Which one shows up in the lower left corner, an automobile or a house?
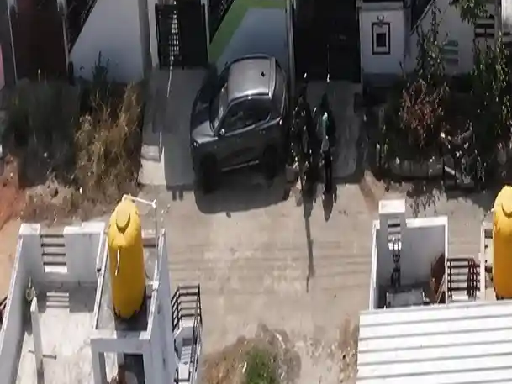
house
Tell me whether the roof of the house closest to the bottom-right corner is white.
Yes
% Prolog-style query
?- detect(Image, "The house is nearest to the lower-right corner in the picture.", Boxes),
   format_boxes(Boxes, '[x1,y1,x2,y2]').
[351,208,512,384]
